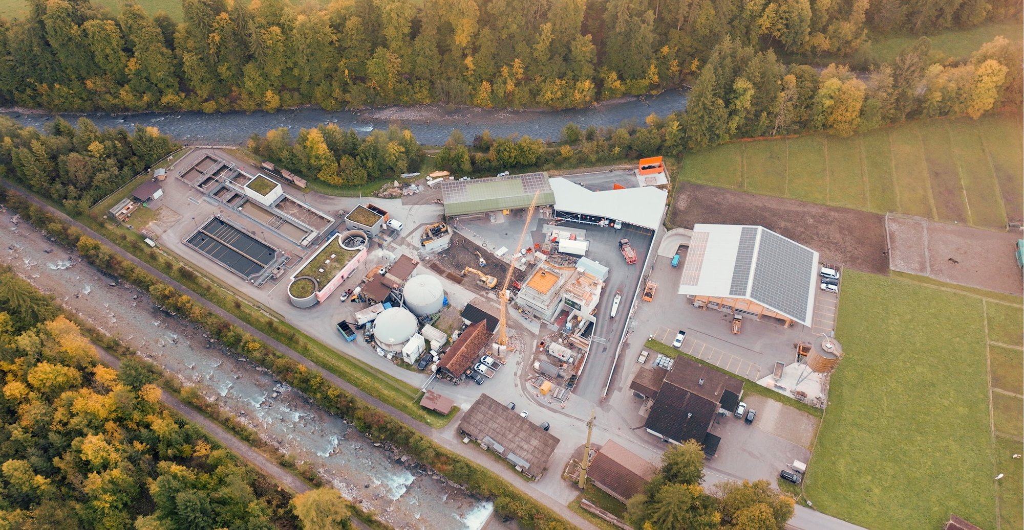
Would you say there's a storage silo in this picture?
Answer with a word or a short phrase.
Yes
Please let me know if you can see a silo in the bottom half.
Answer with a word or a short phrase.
Yes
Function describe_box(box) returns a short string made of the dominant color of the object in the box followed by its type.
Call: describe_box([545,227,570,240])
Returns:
white vehicle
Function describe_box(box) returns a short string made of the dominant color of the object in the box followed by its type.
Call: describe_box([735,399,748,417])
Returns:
white vehicle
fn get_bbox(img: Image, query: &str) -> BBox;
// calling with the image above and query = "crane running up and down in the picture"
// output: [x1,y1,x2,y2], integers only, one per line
[489,190,539,358]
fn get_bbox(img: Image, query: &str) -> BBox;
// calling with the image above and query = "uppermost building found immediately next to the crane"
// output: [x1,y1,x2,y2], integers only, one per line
[440,171,556,225]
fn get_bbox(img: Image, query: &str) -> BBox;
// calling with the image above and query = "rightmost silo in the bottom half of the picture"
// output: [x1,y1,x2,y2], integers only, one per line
[796,330,848,384]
